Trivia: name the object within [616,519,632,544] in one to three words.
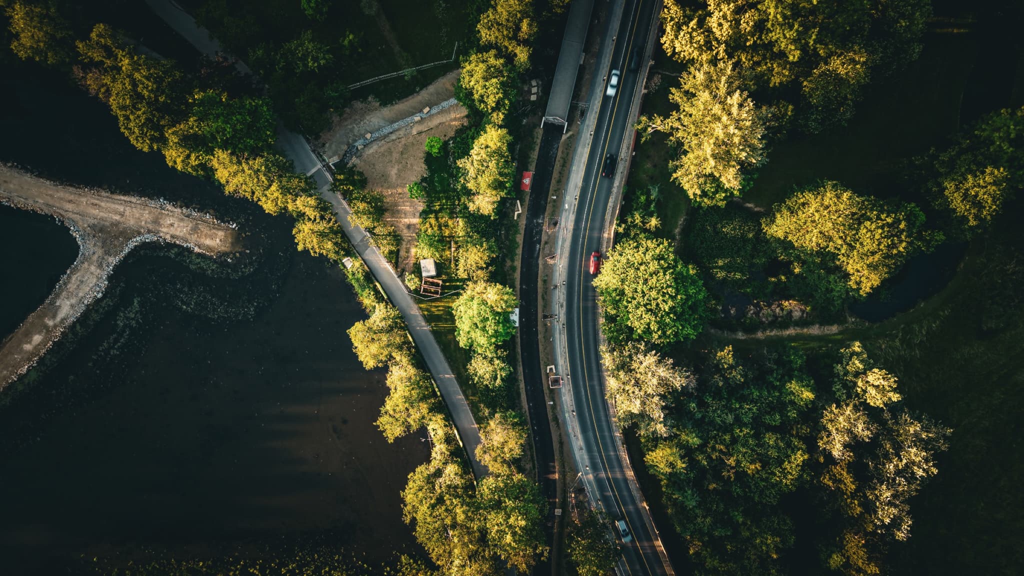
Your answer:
vehicle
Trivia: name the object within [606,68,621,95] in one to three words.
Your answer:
car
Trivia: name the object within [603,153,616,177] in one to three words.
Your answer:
vehicle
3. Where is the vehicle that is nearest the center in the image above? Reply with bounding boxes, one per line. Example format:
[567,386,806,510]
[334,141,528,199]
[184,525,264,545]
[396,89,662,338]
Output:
[589,251,601,275]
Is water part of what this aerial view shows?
Yes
